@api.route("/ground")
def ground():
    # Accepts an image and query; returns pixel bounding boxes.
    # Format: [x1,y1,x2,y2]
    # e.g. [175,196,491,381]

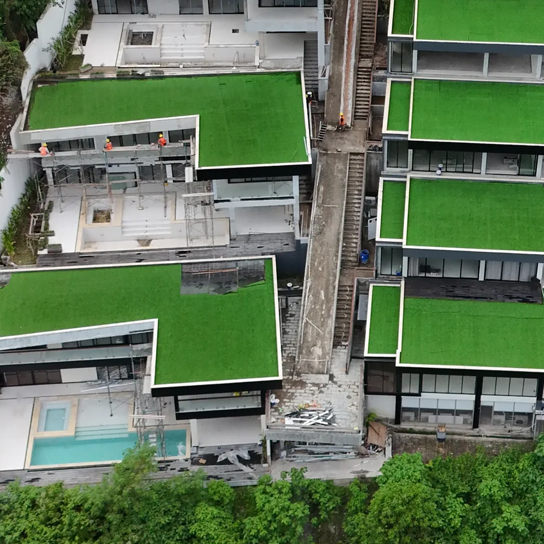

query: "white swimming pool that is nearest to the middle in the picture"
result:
[77,192,230,251]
